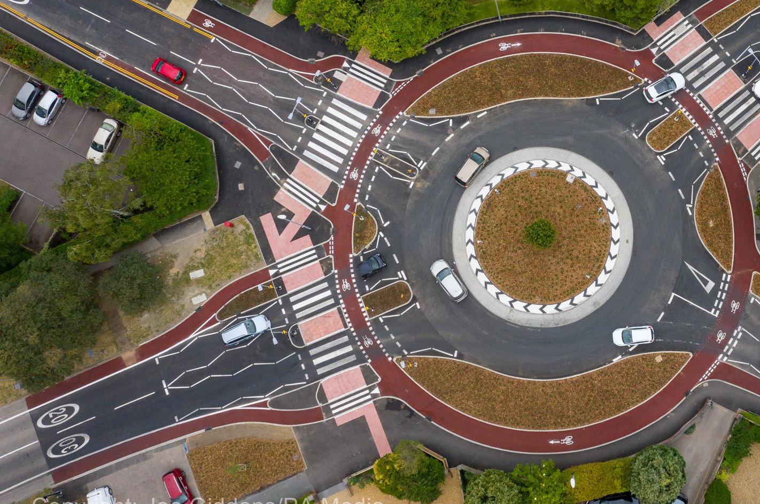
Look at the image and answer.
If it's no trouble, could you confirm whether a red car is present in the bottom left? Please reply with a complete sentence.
Yes, you'll find a red car in the bottom left.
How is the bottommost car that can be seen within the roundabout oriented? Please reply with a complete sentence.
The bottommost car that can be seen within the roundabout is oriented from side to side.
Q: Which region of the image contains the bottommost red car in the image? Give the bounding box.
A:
[159,469,196,504]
